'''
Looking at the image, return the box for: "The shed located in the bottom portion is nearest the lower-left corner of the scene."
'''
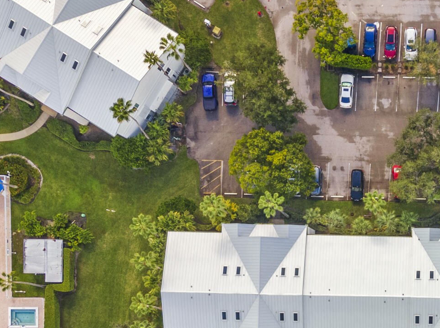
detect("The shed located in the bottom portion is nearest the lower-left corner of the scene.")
[19,238,71,282]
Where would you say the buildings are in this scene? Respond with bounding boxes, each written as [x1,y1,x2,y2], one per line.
[161,207,440,328]
[0,0,185,138]
[19,238,71,282]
